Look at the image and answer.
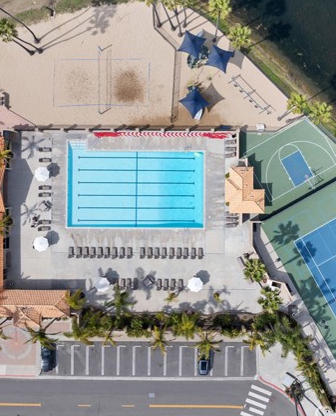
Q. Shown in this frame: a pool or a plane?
pool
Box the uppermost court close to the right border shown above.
[240,117,336,220]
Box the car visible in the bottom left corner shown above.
[41,340,55,370]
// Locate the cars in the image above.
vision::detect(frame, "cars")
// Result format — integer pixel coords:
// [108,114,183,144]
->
[198,345,211,374]
[41,340,55,370]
